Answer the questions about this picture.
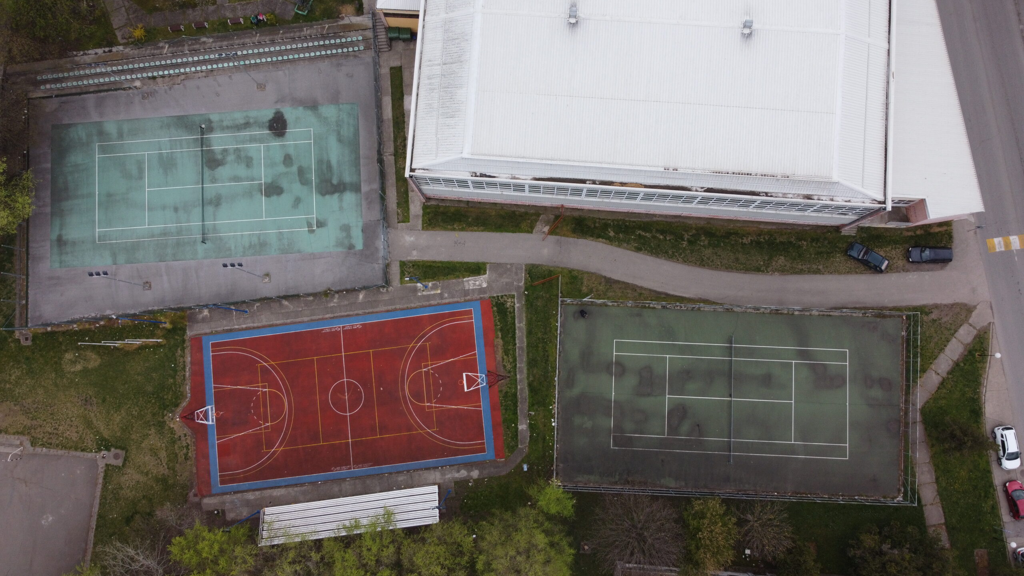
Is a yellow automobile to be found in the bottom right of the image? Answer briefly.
No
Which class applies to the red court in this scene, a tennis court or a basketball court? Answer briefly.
basketball court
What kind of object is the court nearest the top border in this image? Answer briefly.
tennis court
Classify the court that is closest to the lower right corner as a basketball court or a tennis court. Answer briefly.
tennis court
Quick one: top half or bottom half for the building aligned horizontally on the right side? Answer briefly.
top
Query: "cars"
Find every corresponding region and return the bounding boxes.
[843,241,891,276]
[904,245,954,267]
[1001,478,1024,525]
[1011,546,1024,576]
[990,423,1022,471]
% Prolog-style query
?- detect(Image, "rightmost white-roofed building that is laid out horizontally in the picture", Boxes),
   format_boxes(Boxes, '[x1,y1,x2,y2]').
[406,0,896,235]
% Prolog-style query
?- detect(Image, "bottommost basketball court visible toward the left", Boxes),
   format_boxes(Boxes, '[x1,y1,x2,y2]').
[180,300,505,495]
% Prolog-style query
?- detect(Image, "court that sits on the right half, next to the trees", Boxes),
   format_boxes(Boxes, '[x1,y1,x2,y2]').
[555,303,901,497]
